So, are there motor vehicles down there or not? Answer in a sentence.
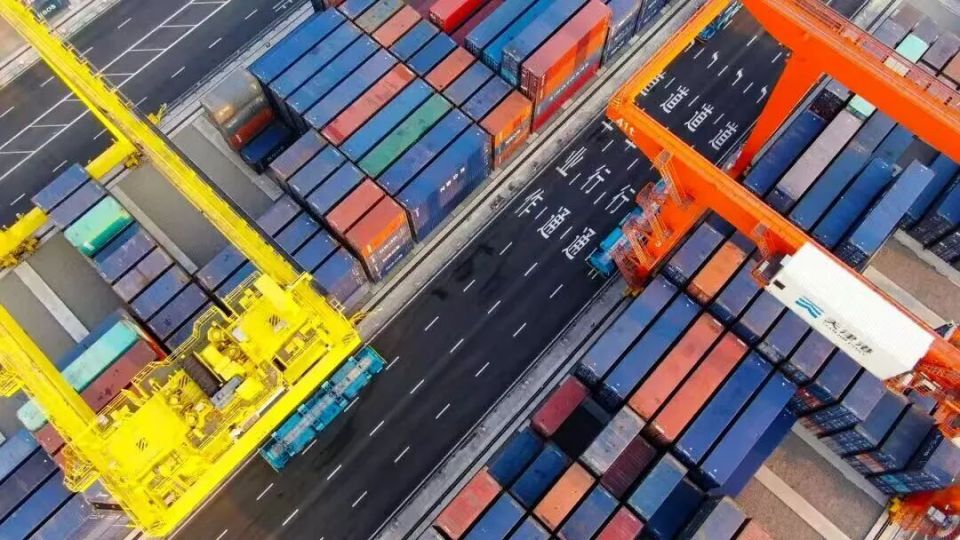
Yes, the photo shows a motor vehicle.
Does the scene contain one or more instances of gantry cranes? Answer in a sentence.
Yes, the picture does show a gantry crane.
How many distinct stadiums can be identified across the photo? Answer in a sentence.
There are no stadiums in this view.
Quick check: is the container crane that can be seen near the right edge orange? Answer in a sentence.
Yes, orange is the color of the container crane that can be seen near the right edge.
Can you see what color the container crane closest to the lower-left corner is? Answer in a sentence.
From above, the container crane closest to the lower-left corner appears yellow.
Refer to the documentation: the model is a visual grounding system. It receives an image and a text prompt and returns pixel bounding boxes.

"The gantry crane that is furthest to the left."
[0,0,373,540]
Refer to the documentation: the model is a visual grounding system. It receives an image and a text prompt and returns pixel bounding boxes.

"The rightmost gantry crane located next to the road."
[599,0,960,540]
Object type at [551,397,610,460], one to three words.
shipping container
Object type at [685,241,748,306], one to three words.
shipping container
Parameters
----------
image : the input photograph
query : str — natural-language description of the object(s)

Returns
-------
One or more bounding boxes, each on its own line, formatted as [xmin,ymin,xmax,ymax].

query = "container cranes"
[599,0,960,540]
[0,0,373,540]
